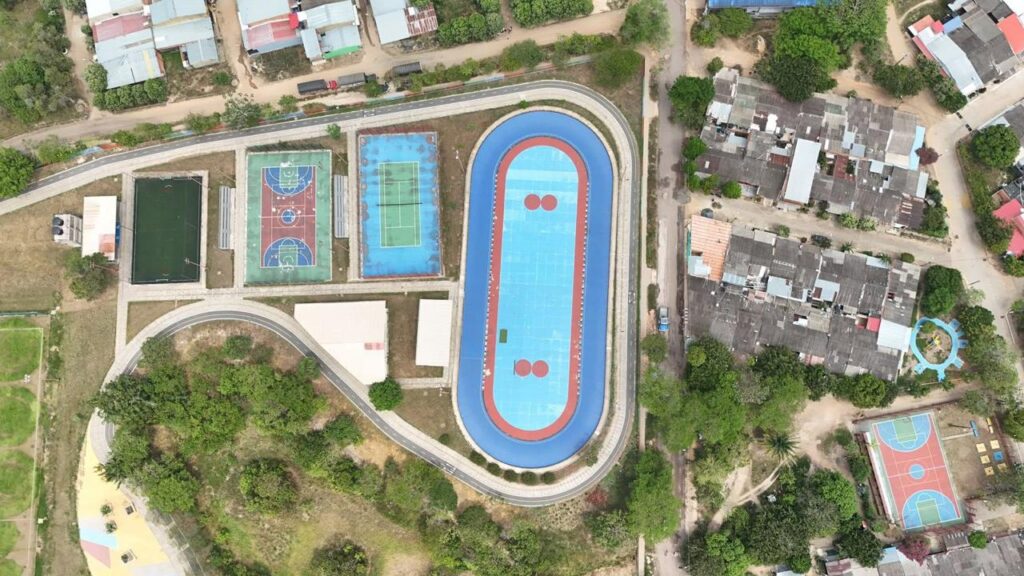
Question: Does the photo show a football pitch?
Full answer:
Yes, there's a football pitch down there.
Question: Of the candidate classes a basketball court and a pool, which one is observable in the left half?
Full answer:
You can see a basketball court in the left half.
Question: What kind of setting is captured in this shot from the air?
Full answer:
The picture captures a residential area.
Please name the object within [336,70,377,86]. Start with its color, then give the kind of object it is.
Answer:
gray vehicle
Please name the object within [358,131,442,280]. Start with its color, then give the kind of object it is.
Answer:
blue tennis court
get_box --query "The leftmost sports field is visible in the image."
[0,315,43,576]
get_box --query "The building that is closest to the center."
[416,299,453,366]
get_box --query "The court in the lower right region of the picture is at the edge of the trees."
[867,408,968,536]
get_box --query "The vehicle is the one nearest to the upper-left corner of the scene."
[295,77,337,92]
